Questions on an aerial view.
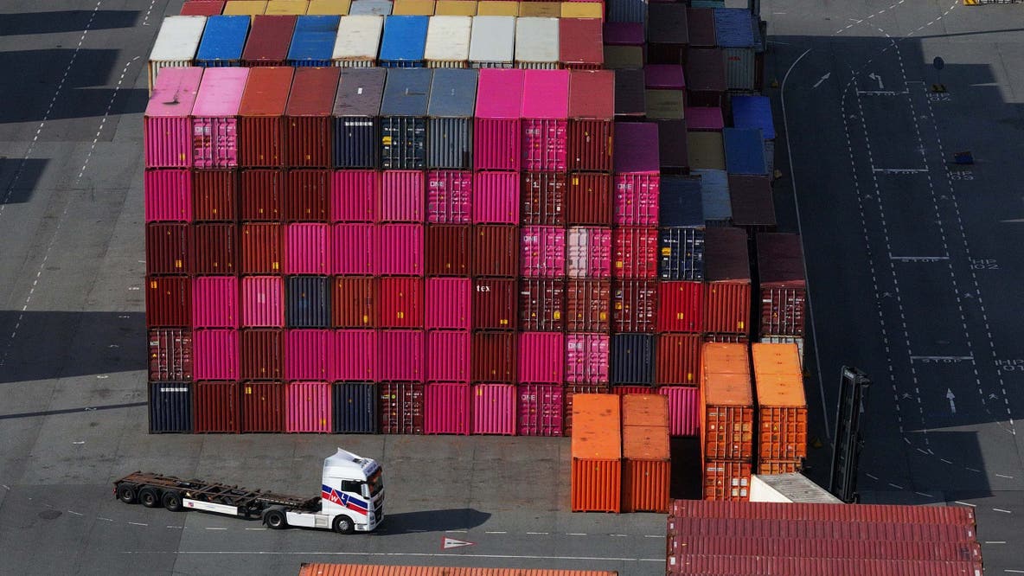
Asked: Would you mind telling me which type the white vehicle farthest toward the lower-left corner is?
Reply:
truck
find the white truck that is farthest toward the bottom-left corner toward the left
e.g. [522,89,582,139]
[262,447,383,533]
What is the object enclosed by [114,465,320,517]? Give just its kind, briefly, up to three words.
trailer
